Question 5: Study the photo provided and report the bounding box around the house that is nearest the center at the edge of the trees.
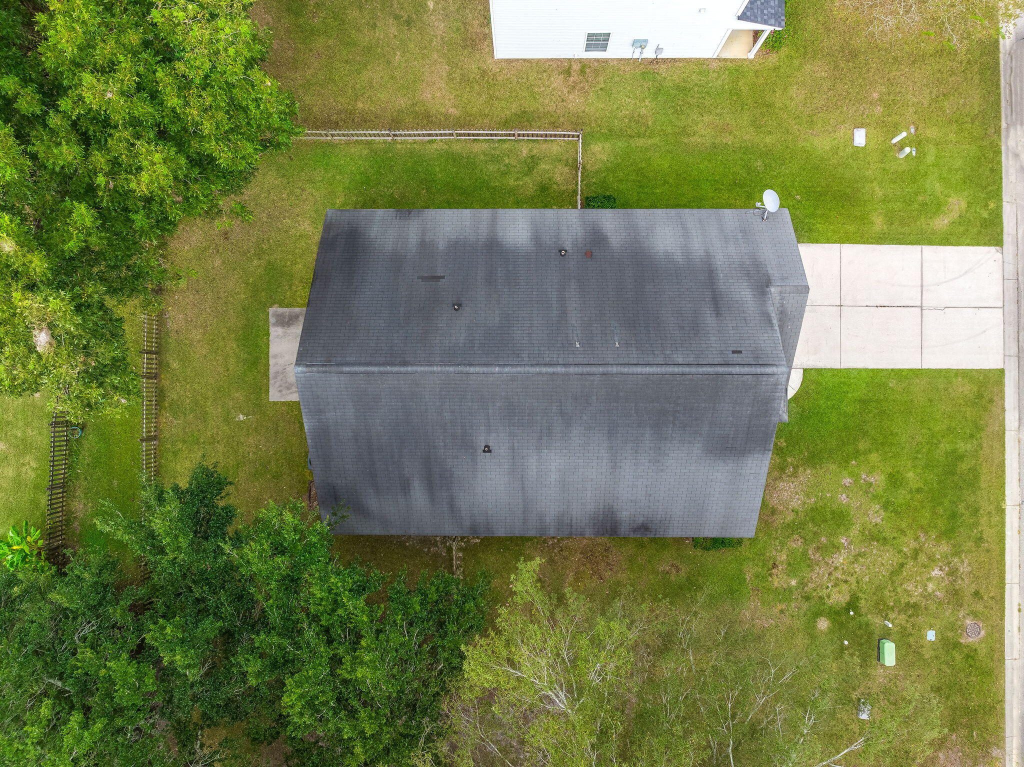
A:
[296,207,811,538]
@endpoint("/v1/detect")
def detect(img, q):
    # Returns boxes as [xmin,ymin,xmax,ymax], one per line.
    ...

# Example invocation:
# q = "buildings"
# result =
[296,207,811,538]
[490,0,785,59]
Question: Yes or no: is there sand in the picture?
No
